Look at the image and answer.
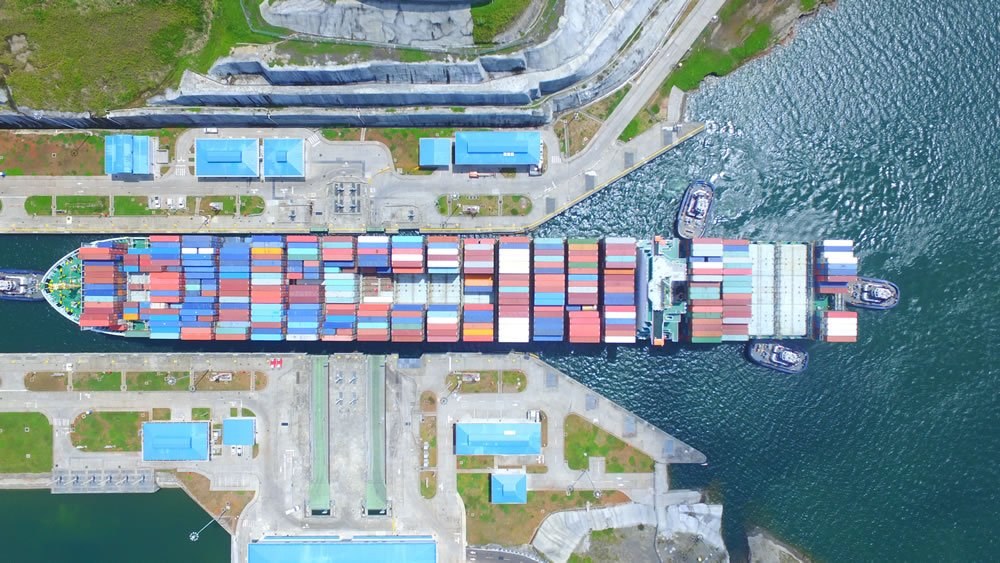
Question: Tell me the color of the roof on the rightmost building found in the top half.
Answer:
blue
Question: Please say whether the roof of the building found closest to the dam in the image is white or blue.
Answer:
blue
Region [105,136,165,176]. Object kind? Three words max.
building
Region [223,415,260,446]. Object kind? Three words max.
building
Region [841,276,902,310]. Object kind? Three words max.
boat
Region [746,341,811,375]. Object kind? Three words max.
boat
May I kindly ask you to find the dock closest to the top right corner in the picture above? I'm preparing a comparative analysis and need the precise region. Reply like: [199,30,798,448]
[521,122,706,234]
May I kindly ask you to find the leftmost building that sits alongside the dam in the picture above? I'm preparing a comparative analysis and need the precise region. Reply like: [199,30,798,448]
[142,419,215,462]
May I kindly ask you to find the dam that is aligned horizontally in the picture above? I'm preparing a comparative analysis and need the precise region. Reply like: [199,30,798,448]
[52,465,161,494]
